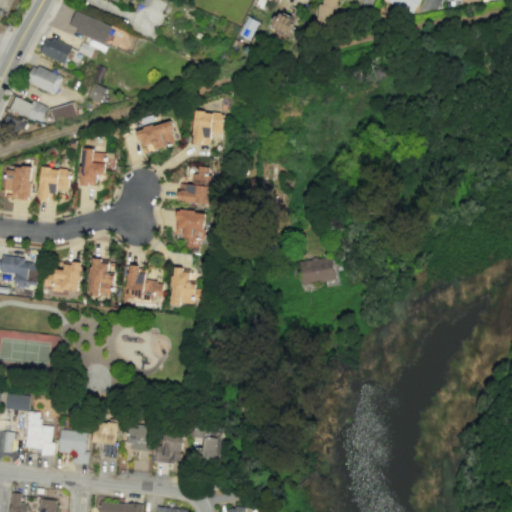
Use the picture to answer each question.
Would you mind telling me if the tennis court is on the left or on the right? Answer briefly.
left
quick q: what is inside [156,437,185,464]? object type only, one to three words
house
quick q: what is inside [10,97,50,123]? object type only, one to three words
house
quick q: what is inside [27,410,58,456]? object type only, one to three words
building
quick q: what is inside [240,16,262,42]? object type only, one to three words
building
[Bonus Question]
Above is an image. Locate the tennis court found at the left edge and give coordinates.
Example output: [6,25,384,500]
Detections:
[0,330,62,368]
